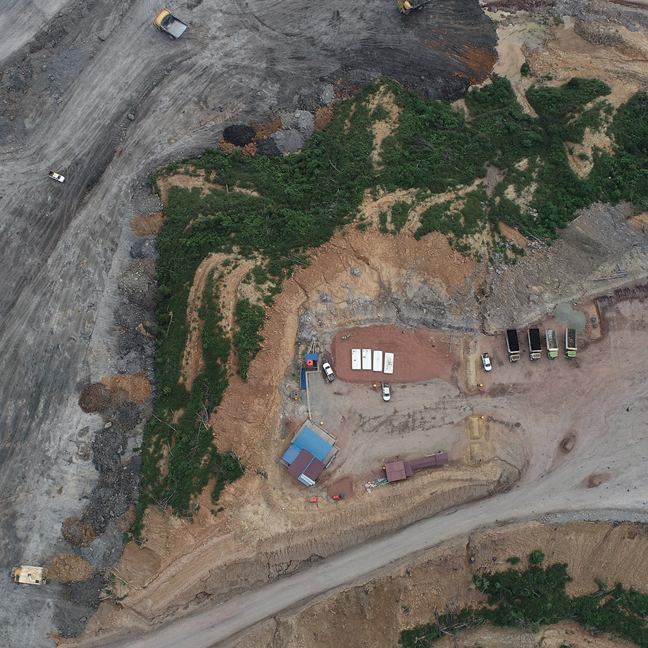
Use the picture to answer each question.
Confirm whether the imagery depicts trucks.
Yes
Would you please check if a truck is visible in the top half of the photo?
Yes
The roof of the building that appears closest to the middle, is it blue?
Yes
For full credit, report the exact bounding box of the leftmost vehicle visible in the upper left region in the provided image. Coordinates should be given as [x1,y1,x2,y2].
[47,170,65,183]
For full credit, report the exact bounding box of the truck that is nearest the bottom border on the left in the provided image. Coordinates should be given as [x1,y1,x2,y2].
[11,565,49,586]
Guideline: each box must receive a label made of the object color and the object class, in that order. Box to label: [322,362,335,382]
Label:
white vehicle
